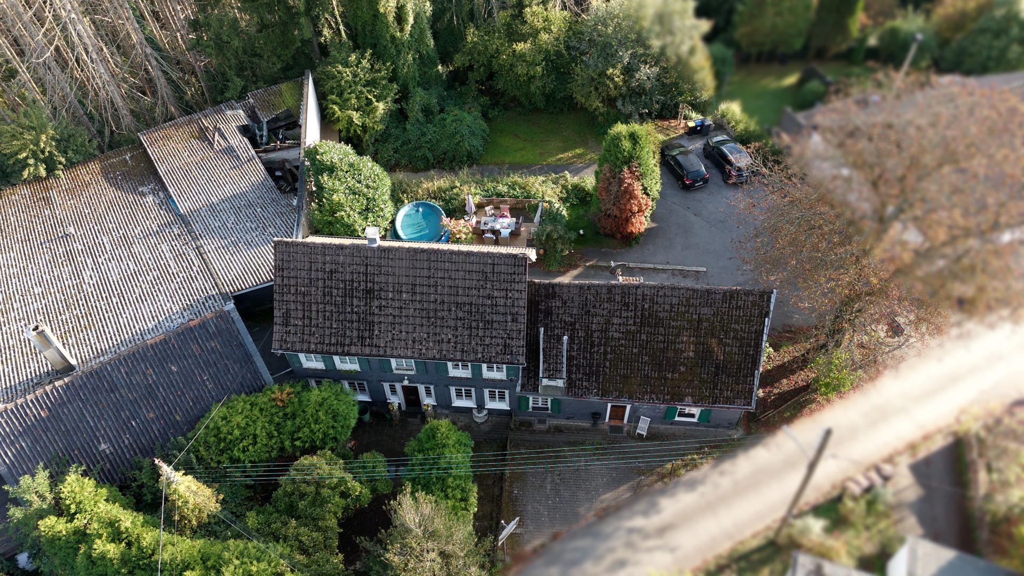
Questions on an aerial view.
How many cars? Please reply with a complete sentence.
The count of cars comes to 2.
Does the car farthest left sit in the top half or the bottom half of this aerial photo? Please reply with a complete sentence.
The car farthest left is in the top half of the image.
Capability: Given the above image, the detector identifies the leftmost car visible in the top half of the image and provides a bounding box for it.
[664,143,708,185]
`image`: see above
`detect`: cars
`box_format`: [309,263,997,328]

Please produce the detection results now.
[664,143,708,185]
[705,135,751,176]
